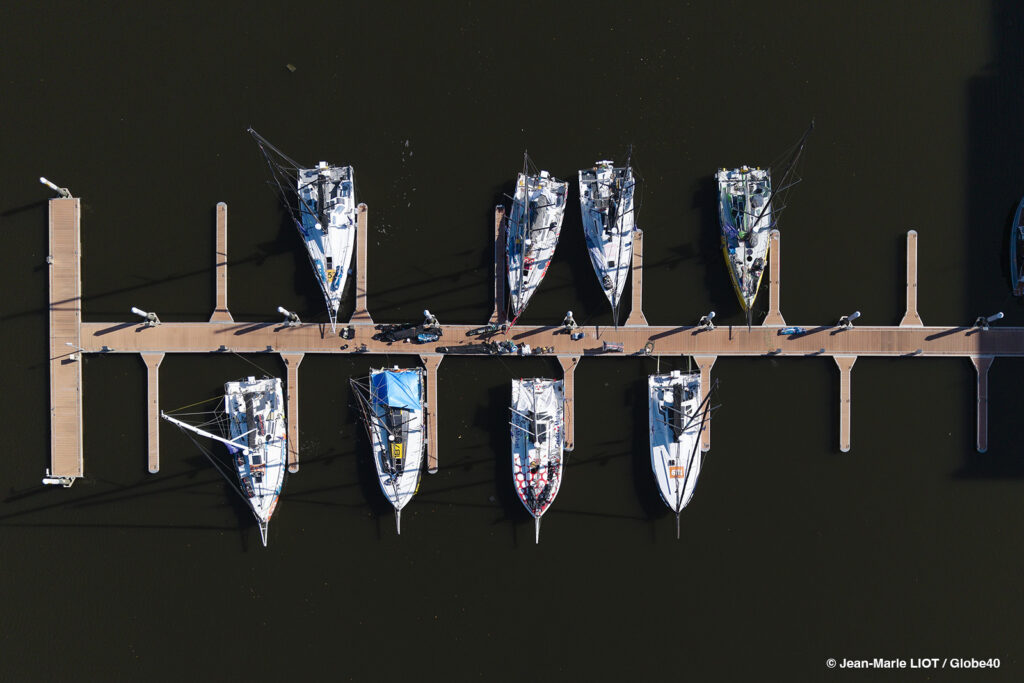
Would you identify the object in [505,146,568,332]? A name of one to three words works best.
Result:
boat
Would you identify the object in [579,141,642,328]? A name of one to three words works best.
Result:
boat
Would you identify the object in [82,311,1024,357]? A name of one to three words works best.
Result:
pier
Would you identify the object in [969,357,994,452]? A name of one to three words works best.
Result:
pier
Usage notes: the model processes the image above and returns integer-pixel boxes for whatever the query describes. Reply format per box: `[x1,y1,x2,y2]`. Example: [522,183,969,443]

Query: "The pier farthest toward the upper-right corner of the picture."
[899,230,923,326]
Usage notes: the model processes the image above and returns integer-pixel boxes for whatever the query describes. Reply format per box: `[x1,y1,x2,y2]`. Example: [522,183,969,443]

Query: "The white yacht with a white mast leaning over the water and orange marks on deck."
[158,378,287,547]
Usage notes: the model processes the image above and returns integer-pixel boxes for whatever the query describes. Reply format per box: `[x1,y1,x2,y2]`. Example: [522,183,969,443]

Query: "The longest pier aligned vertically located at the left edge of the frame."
[42,189,85,487]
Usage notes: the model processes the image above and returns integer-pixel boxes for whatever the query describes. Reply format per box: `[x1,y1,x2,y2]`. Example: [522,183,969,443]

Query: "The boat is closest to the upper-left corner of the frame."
[249,123,356,333]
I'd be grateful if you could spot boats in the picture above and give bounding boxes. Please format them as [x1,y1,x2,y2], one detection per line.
[505,146,568,332]
[579,141,642,328]
[249,123,356,333]
[717,117,815,329]
[158,378,287,547]
[350,363,424,534]
[1008,194,1024,297]
[510,377,564,544]
[648,370,718,538]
